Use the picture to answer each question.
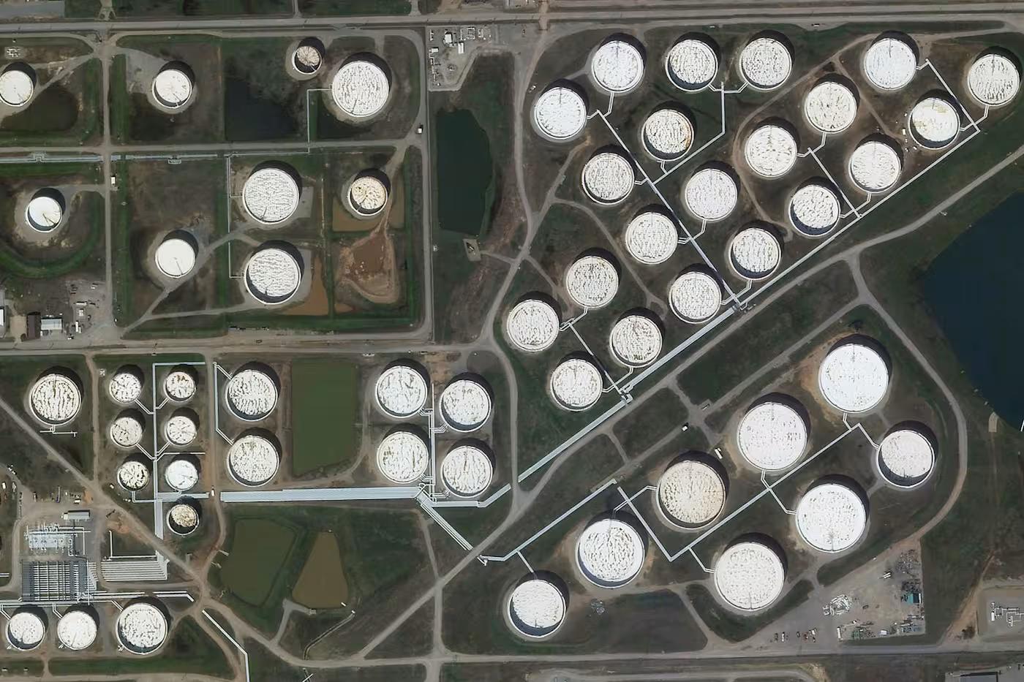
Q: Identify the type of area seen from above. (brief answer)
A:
industrial area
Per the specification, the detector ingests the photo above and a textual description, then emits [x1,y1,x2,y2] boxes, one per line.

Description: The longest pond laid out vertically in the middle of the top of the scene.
[437,110,491,235]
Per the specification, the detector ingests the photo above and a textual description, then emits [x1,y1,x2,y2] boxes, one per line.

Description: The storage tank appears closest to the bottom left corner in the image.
[6,611,46,651]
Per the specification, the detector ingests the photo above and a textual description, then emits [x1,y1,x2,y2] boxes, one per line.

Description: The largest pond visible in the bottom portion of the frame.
[292,359,358,473]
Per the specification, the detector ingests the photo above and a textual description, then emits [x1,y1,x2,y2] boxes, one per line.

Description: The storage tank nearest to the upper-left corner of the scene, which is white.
[0,70,35,107]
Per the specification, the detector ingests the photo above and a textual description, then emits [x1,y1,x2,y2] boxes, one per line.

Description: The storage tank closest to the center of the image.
[507,298,559,352]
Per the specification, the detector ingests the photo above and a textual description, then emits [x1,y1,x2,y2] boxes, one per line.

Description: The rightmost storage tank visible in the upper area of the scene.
[967,52,1020,107]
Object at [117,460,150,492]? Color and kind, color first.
white storage tank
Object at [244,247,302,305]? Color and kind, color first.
white storage tank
